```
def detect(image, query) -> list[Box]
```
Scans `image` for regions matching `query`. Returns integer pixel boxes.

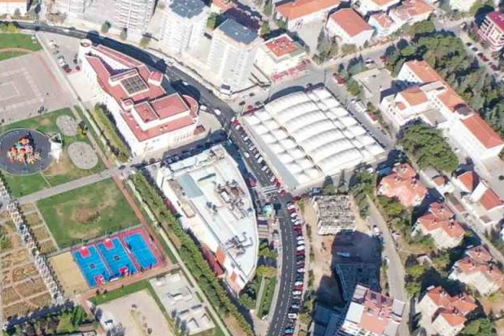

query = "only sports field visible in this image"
[36,179,143,248]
